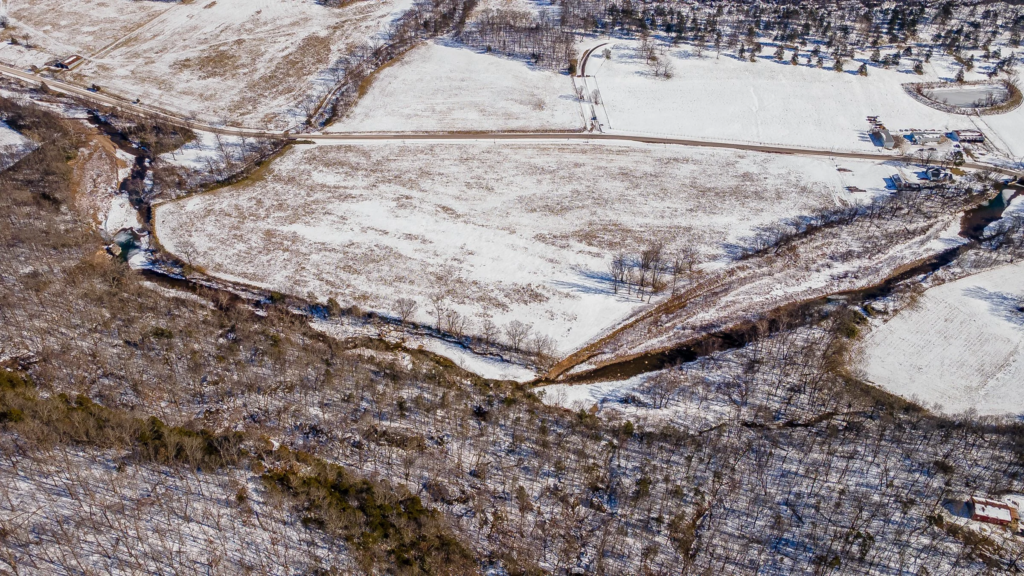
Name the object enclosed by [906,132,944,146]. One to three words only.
house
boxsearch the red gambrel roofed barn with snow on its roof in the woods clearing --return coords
[964,492,1022,523]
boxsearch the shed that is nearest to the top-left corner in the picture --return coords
[52,54,91,69]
